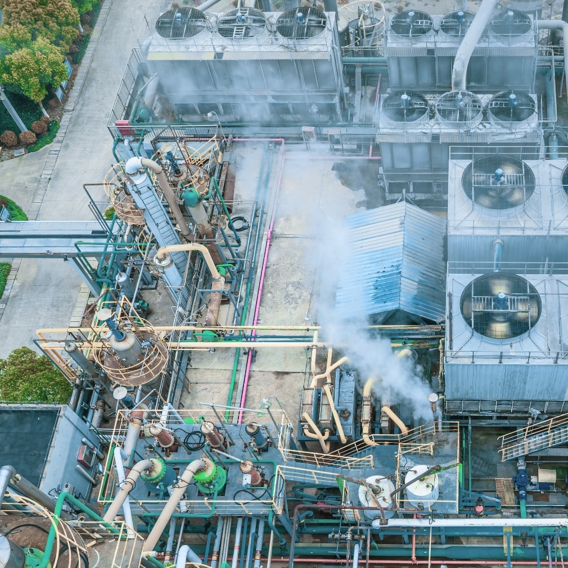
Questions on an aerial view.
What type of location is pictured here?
industrial area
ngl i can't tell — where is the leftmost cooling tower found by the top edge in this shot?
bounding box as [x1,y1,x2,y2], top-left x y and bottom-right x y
[143,0,345,122]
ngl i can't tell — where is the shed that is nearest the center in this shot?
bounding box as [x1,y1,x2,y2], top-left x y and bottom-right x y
[335,185,445,346]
